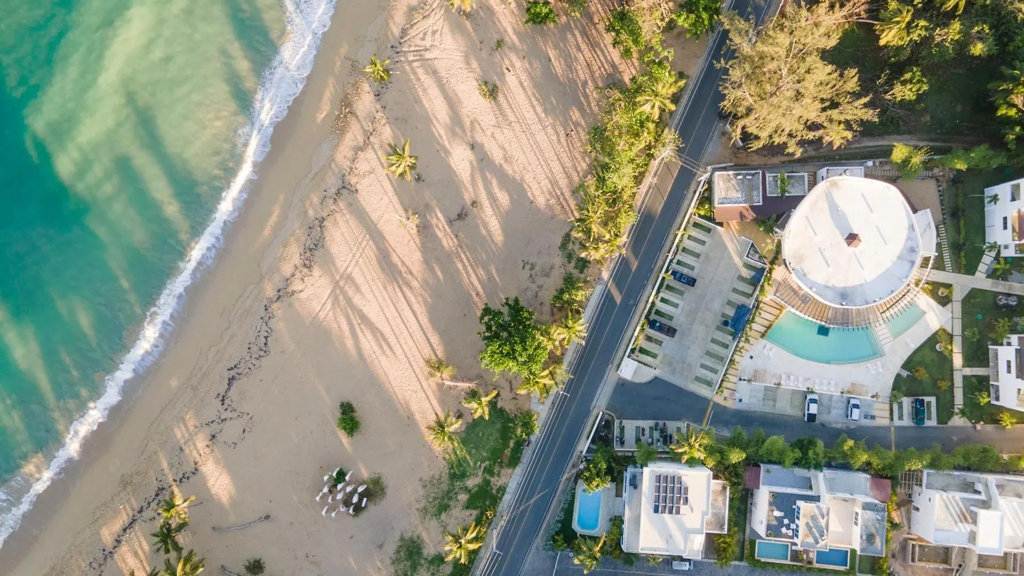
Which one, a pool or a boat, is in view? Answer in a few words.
pool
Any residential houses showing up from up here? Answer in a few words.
Yes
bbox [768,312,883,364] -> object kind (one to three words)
swimming pool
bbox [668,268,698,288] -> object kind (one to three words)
car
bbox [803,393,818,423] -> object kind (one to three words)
car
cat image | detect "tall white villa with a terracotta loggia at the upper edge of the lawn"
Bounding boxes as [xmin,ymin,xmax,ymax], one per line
[983,179,1024,257]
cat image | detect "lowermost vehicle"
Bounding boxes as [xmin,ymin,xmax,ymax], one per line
[670,558,693,571]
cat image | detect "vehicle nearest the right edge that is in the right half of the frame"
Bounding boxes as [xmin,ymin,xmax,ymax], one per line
[910,397,926,426]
